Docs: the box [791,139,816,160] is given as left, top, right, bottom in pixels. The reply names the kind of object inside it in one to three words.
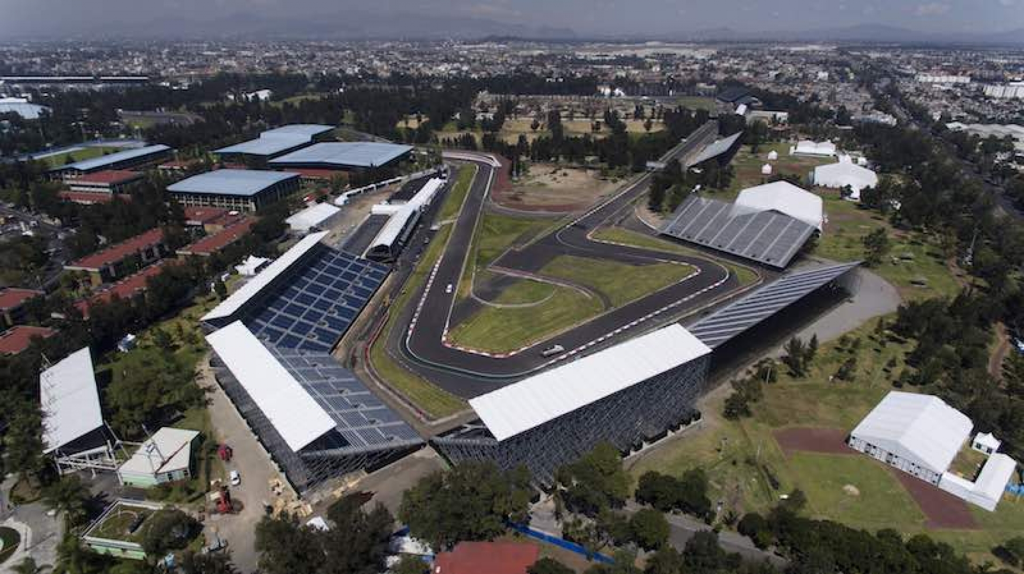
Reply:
tent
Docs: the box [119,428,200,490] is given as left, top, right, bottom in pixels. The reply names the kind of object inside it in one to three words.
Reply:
building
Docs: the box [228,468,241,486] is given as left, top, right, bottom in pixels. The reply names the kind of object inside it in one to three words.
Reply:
vehicle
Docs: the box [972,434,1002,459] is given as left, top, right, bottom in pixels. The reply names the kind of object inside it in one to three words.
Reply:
tent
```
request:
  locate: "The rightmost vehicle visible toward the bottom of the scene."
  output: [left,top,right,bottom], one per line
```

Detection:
[541,341,564,357]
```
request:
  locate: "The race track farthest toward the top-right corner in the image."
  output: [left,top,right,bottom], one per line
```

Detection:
[410,118,727,375]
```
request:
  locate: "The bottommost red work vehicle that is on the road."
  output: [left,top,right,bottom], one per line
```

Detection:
[213,486,233,513]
